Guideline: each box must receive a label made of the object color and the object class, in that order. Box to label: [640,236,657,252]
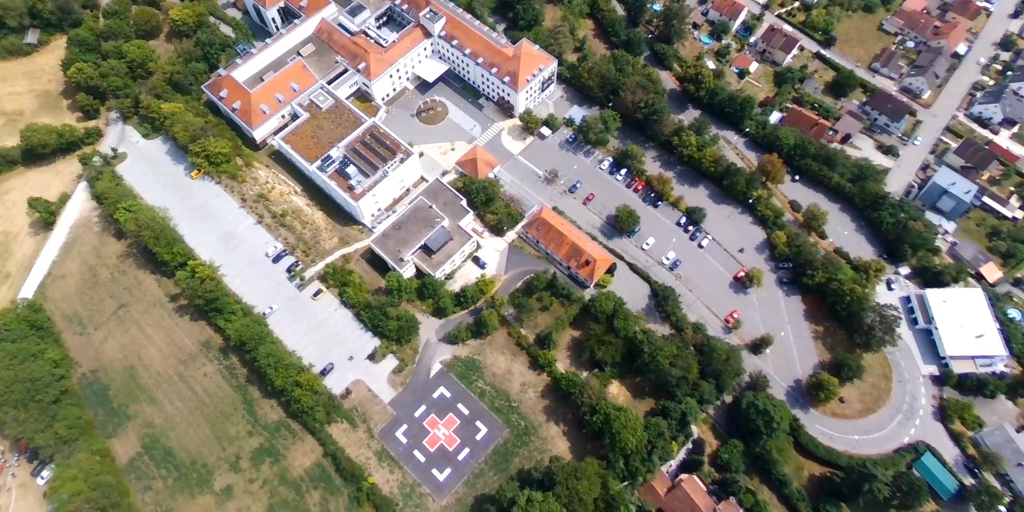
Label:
white car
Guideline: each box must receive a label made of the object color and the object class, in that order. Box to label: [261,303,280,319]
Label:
white car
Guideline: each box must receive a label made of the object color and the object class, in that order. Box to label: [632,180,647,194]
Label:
red car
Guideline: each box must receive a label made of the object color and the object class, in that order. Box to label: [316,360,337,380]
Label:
gray car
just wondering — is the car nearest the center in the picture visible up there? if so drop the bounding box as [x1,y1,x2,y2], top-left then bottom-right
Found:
[470,253,489,270]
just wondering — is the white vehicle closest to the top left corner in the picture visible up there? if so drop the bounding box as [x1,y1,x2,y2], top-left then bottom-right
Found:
[264,243,284,257]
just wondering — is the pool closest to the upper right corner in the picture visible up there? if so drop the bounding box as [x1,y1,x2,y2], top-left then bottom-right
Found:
[735,25,753,39]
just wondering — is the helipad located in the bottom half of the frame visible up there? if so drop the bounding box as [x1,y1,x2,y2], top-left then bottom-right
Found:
[376,363,508,503]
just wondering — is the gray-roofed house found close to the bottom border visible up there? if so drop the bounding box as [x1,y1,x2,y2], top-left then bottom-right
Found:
[969,415,1024,504]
